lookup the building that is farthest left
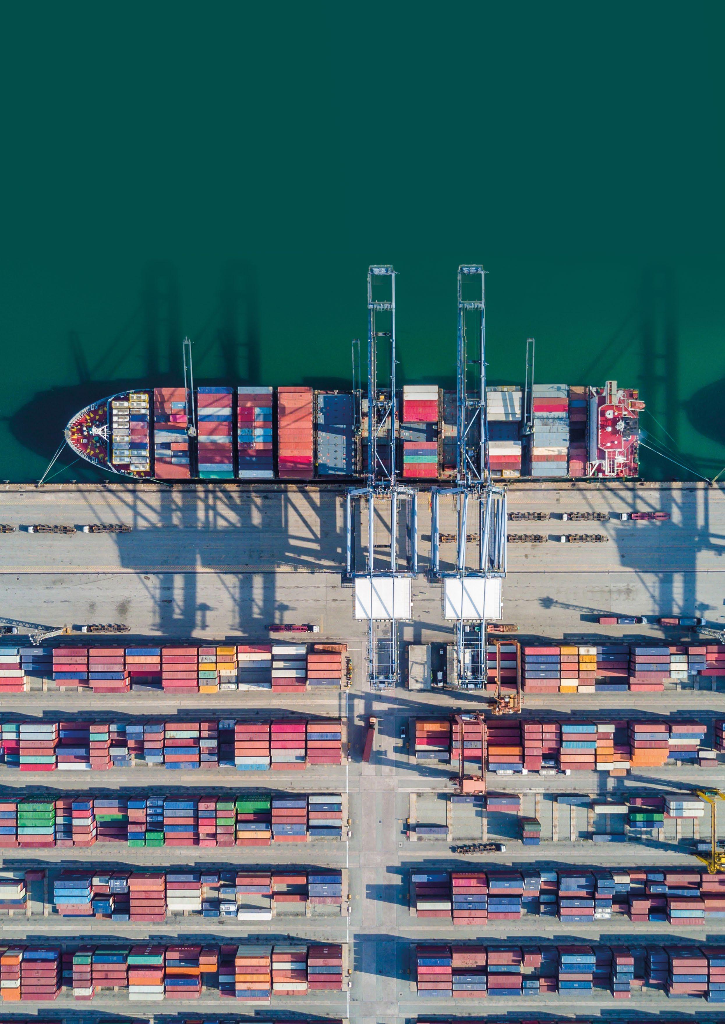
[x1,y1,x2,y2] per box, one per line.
[408,644,431,689]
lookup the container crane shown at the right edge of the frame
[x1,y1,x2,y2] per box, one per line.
[690,785,725,872]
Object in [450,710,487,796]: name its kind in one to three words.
container crane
